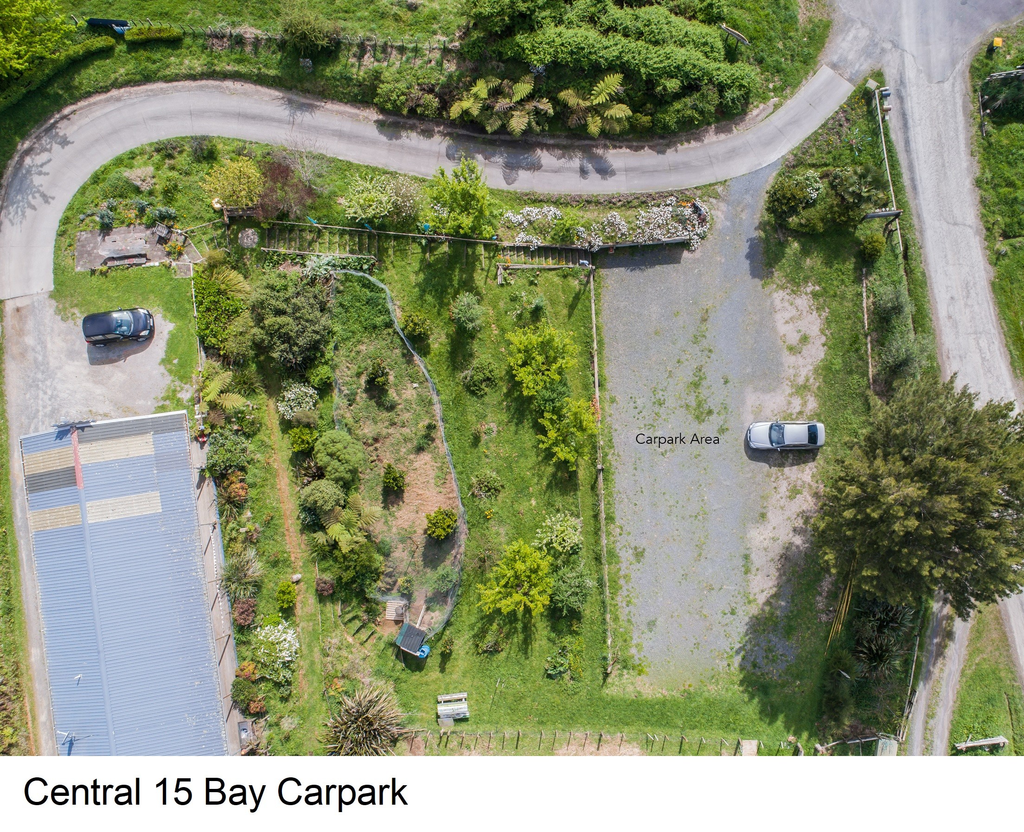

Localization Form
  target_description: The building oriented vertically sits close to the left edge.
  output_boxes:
[16,413,242,832]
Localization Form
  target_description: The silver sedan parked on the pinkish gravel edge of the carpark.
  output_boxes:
[748,415,830,453]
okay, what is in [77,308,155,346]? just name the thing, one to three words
car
